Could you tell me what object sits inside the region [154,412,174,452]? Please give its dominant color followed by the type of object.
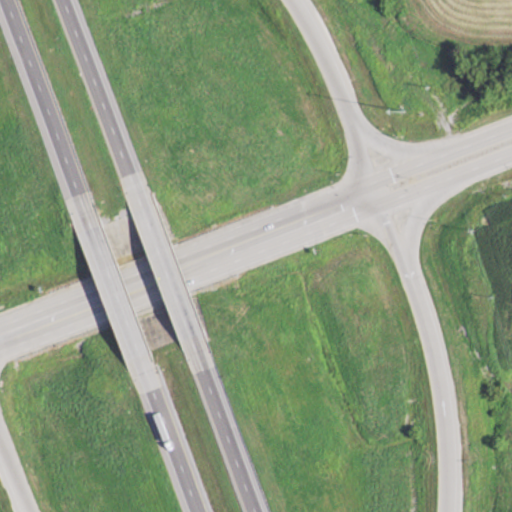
white vehicle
